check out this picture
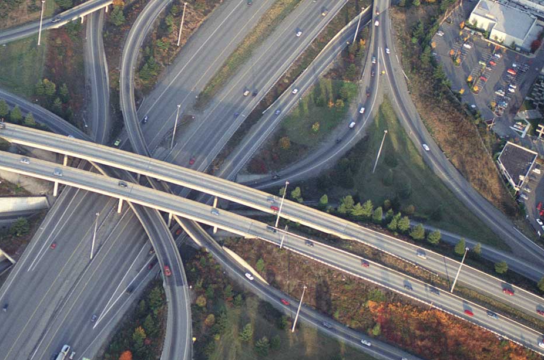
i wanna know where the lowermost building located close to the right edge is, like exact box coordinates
[497,142,537,193]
